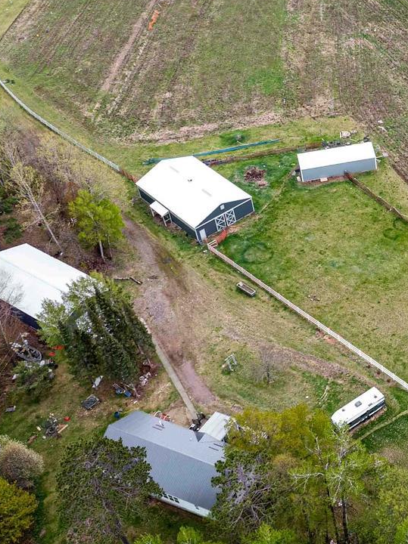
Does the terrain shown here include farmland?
Yes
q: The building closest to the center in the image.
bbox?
[136,155,254,241]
